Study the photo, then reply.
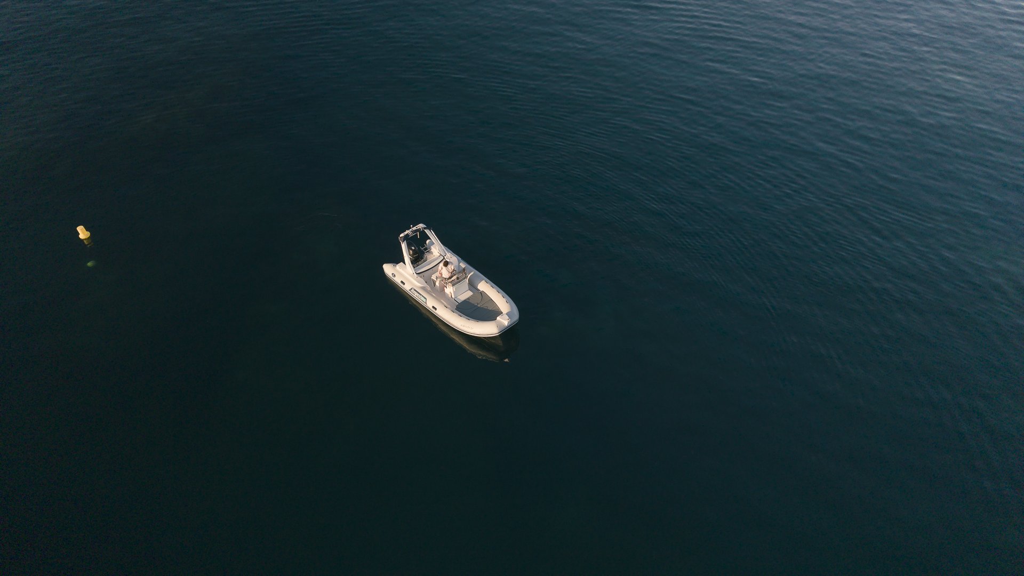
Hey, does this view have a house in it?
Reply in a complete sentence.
No, the frame has no house in it.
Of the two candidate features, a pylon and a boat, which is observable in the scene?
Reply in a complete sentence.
It is a boat that can be seen here.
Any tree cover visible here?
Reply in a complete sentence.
No, the picture contains no tree cover.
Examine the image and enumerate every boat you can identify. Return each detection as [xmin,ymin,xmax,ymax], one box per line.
[382,223,519,336]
